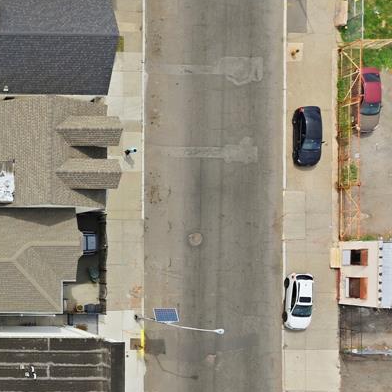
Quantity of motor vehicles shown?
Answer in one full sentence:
I count 3 motor vehicles.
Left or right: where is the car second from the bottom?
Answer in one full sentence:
The car second from the bottom is on the right side of the image.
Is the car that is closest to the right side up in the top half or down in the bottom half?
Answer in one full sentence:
You can find the car that is closest to the right side in the top half.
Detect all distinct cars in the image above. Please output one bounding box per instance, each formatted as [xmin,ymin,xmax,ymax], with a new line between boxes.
[352,70,386,132]
[291,106,324,166]
[282,274,314,330]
